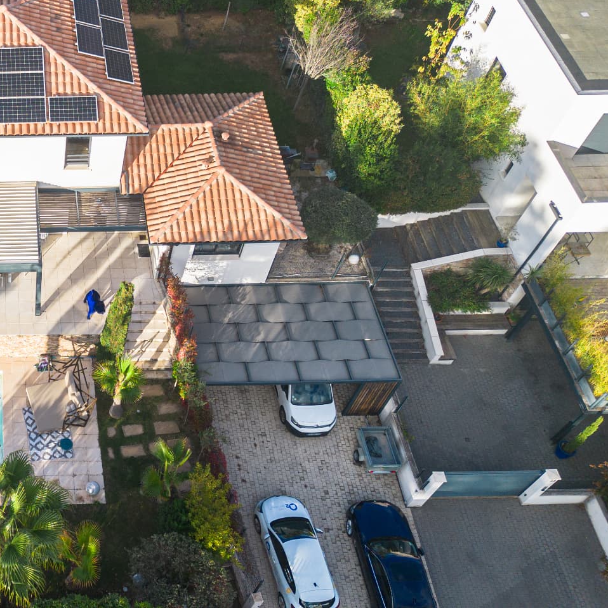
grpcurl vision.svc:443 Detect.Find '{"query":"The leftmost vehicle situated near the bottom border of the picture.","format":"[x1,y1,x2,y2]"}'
[250,491,346,608]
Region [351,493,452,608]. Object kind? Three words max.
car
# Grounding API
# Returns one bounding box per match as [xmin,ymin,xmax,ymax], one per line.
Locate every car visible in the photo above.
[351,493,452,608]
[250,491,346,608]
[277,384,351,439]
